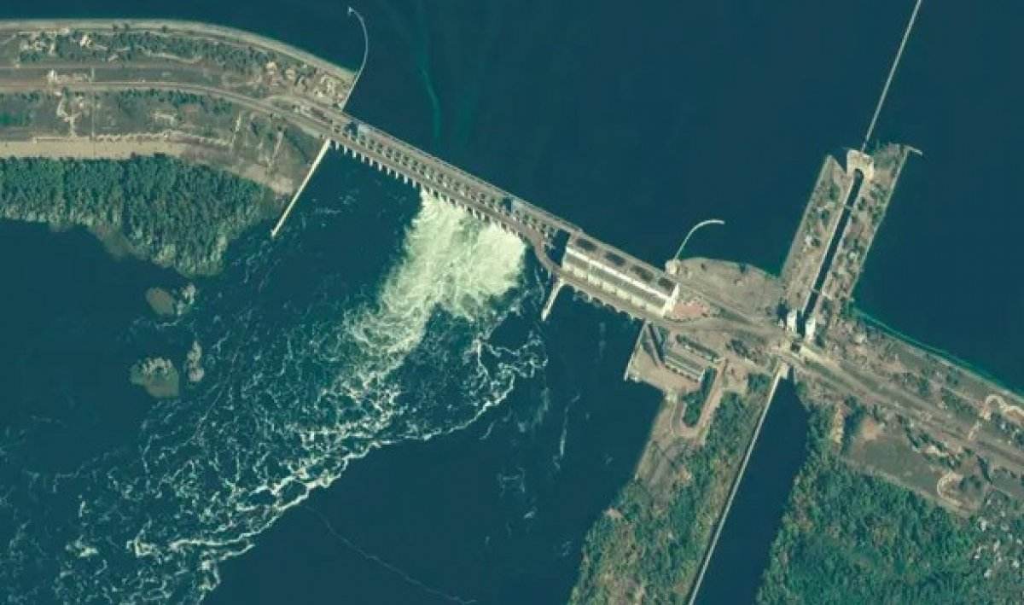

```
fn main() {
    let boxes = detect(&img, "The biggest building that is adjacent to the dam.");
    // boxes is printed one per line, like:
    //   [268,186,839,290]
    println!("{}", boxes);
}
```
[552,231,680,326]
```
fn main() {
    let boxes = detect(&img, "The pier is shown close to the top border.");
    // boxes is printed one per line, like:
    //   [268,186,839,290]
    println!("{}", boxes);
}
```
[863,0,922,152]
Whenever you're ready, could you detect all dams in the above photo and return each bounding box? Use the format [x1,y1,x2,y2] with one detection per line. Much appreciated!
[330,115,585,246]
